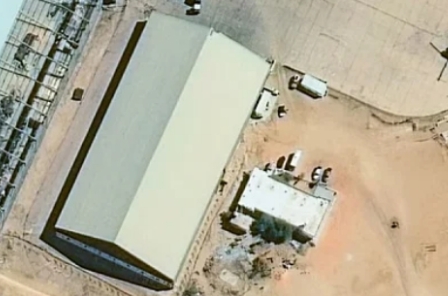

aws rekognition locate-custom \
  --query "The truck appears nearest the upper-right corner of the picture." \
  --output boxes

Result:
[294,76,329,97]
